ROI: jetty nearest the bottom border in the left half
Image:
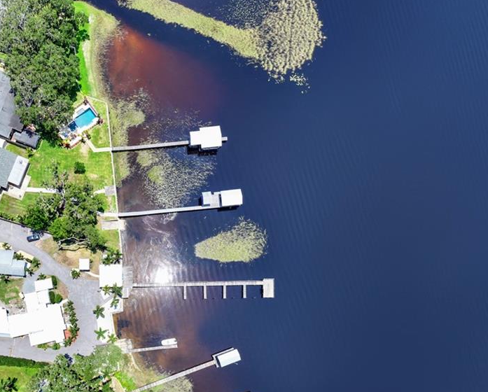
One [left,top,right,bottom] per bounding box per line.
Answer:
[129,346,234,392]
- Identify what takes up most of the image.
water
